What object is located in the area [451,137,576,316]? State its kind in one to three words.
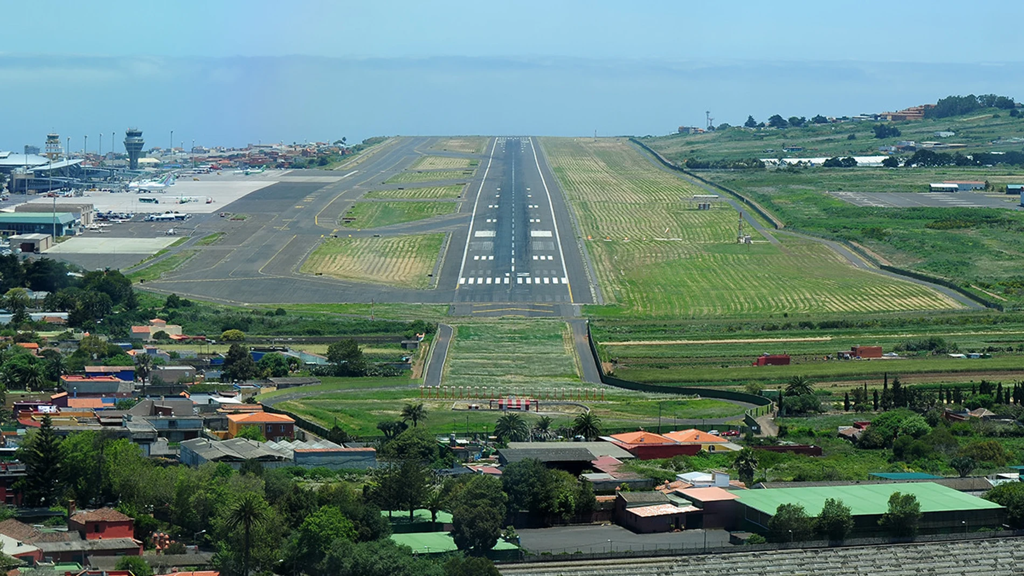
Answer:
runway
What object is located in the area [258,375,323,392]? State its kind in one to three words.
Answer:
shed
